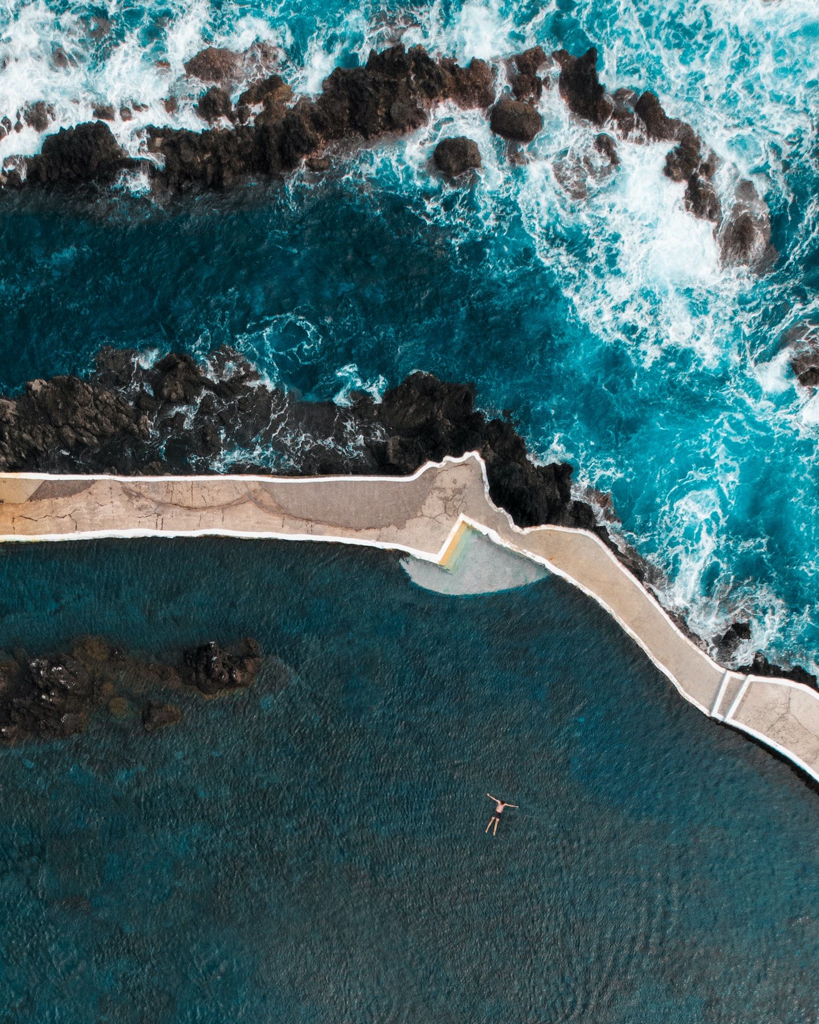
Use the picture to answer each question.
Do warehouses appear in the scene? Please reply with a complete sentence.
No, there isn't any warehouse down there.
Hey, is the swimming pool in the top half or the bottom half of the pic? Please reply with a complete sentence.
It is in the bottom half that the swimming pool appears.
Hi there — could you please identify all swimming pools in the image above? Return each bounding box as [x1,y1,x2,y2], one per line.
[0,535,819,1024]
